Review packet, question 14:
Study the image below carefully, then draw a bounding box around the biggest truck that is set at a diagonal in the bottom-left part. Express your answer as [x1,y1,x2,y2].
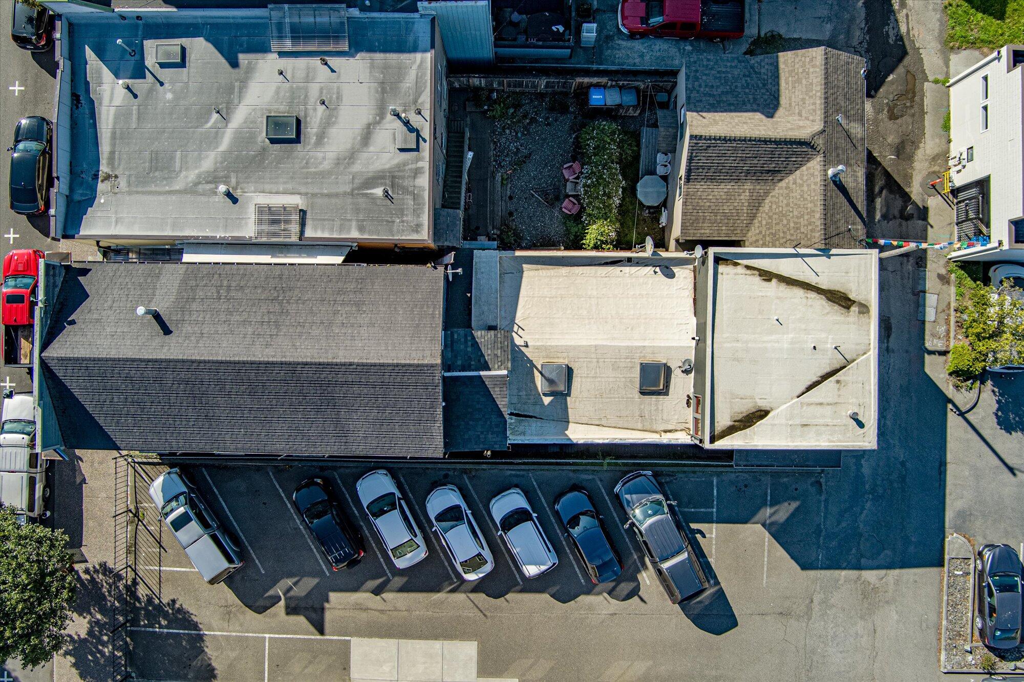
[151,470,248,589]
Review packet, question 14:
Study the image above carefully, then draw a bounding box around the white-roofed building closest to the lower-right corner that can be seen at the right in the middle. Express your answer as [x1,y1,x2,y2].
[692,249,877,449]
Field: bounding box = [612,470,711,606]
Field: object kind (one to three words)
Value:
truck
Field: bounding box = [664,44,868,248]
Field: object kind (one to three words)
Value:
house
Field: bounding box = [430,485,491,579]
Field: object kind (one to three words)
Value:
car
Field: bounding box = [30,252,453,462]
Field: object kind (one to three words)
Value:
building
